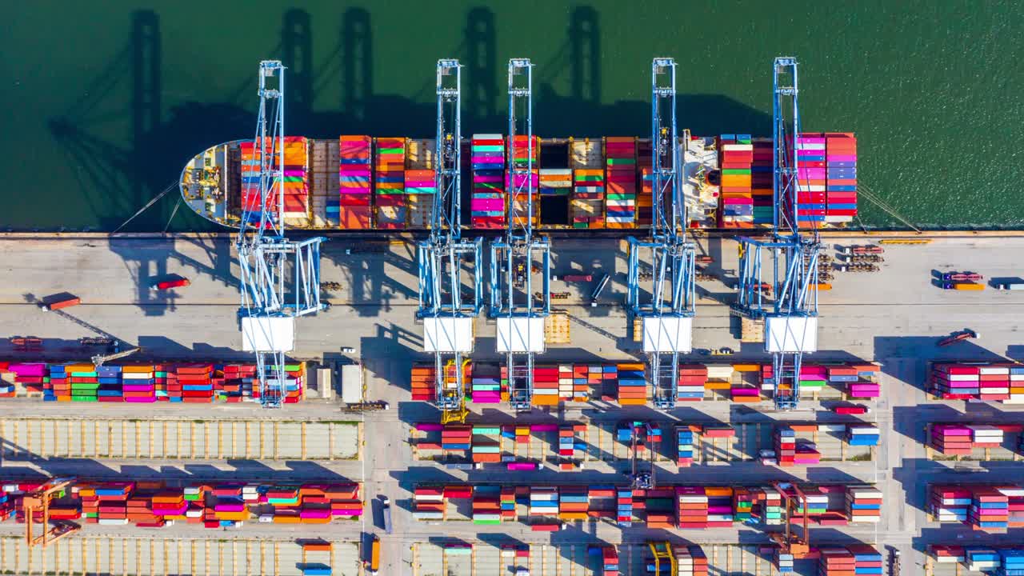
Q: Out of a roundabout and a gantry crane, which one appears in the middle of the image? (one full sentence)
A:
The feature located in the middle of the image is a gantry crane.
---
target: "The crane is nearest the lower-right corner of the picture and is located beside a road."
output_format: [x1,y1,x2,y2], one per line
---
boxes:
[767,483,809,561]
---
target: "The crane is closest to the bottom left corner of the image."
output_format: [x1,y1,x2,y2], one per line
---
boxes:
[24,476,79,547]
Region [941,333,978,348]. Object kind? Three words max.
vehicle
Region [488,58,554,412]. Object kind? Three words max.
container crane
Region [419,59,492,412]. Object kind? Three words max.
container crane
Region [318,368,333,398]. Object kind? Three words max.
shed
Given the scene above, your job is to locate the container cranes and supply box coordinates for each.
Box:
[488,58,554,412]
[767,483,809,561]
[613,57,695,413]
[718,57,831,413]
[644,541,676,576]
[24,476,79,547]
[233,60,338,411]
[443,354,472,424]
[419,59,492,412]
[623,421,656,495]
